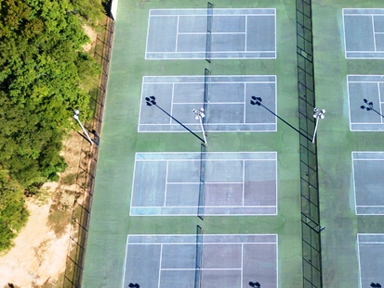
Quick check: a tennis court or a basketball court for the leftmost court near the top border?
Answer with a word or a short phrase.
tennis court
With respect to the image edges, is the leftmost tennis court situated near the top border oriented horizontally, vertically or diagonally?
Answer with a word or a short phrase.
horizontally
